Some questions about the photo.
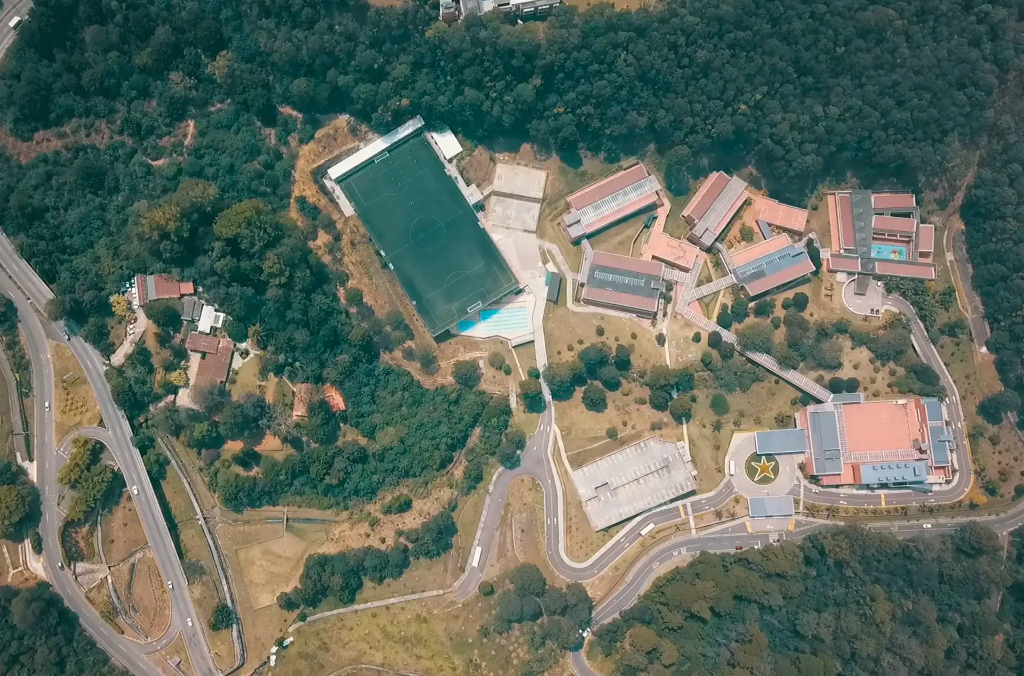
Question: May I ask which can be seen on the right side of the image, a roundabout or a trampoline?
roundabout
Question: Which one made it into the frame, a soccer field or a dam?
soccer field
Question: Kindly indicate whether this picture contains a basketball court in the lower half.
No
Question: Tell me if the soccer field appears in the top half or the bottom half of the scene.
top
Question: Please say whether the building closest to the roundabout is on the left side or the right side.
right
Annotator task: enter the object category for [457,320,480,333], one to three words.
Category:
swimming pool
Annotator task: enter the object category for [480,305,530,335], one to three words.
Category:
swimming pool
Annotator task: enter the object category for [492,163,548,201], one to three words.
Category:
basketball court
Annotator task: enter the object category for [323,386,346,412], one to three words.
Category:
house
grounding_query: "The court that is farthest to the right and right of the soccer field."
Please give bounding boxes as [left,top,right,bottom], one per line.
[754,199,808,235]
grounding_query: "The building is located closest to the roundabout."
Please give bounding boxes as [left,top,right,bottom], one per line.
[792,398,959,493]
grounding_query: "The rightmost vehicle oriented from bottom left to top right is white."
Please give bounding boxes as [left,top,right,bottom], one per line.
[638,521,655,537]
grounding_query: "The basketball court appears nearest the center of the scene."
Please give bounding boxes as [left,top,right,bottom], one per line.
[487,196,541,233]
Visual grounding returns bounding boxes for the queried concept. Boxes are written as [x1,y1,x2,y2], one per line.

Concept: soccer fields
[336,125,521,337]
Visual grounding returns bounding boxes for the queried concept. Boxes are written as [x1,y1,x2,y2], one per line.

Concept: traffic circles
[726,431,804,499]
